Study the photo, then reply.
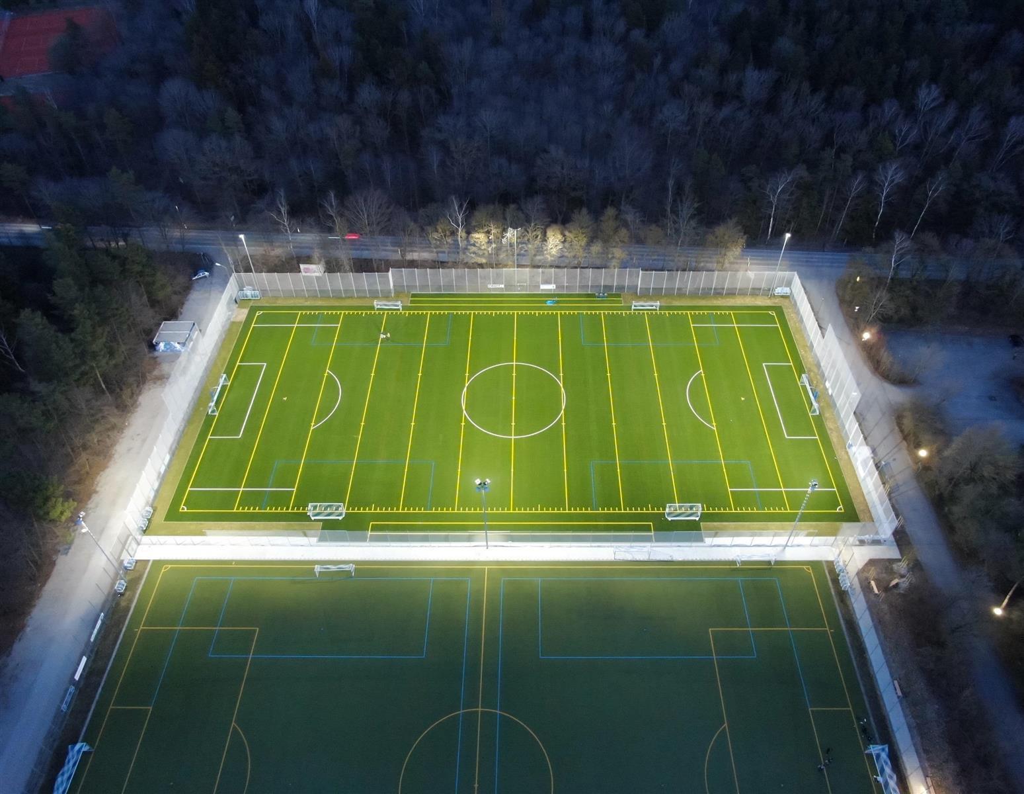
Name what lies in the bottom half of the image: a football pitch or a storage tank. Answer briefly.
football pitch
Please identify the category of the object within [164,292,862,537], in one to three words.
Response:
soccer field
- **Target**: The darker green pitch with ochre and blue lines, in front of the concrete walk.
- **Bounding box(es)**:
[66,559,886,794]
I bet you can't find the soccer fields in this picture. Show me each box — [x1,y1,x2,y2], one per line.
[66,559,886,794]
[164,292,862,537]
